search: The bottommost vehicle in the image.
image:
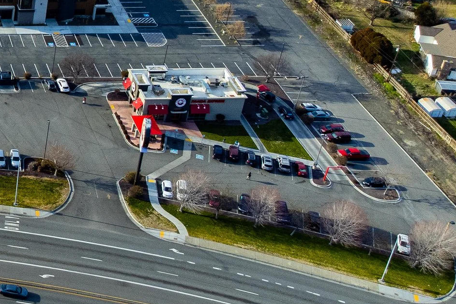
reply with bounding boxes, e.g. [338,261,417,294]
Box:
[0,284,28,299]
